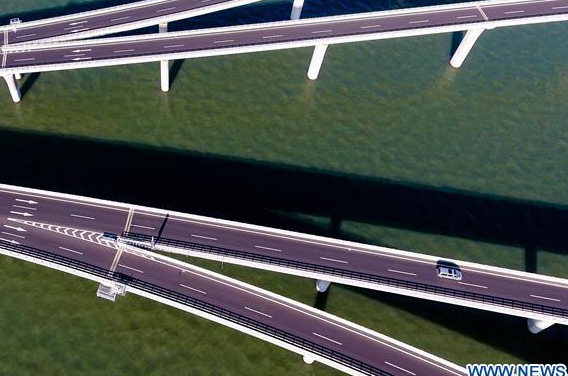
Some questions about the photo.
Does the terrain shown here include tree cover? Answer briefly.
No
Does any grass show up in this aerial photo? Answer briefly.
No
